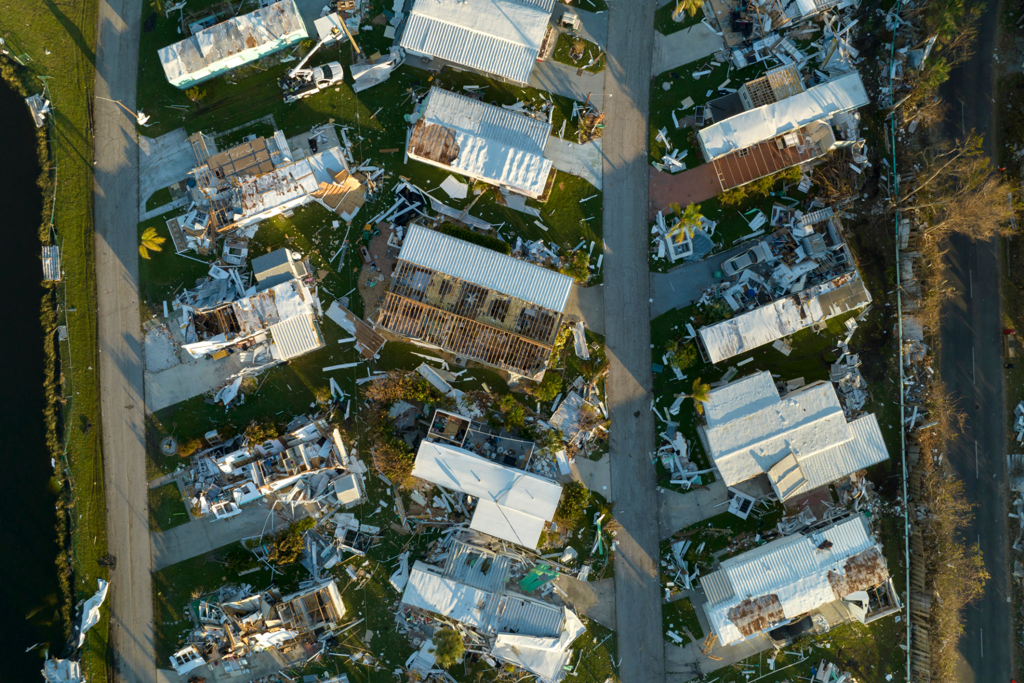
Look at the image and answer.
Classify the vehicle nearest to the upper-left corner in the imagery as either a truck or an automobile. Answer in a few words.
truck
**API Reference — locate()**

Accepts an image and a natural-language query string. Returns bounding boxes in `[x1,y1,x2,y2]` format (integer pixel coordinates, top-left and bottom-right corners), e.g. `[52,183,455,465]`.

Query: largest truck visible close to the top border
[276,27,344,101]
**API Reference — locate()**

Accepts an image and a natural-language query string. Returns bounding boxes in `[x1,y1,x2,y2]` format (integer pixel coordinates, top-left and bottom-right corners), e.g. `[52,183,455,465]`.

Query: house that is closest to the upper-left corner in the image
[157,0,309,89]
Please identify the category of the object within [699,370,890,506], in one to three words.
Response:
house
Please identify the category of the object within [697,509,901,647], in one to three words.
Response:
house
